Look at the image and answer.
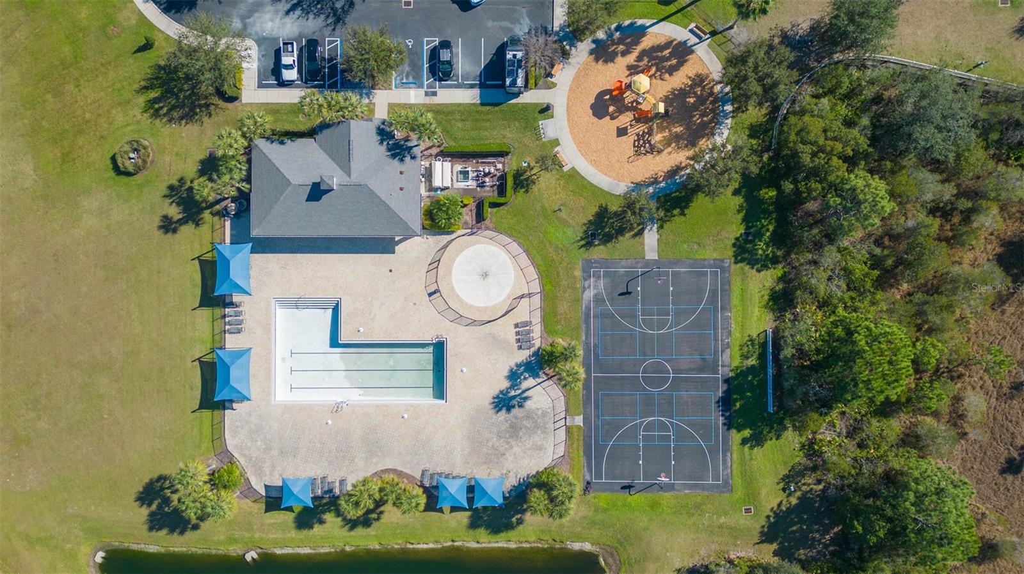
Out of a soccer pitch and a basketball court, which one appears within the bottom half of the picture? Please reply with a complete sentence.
There is a basketball court within the bottom half of the picture.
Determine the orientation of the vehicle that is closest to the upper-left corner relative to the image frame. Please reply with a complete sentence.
The vehicle that is closest to the upper-left corner has been laid out up and down relative to the frame.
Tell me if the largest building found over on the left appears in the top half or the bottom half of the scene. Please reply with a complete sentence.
The largest building found over on the left sits in the top half of the picture.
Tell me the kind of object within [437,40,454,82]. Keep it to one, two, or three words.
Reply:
car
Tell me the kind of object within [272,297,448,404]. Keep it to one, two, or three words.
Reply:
swimming pool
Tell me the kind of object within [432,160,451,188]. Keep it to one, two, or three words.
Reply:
shed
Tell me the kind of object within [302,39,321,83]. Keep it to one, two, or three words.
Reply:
vehicle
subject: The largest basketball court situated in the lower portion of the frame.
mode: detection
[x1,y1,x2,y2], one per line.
[581,259,732,494]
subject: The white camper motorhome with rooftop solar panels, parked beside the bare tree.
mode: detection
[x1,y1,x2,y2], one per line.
[503,35,527,93]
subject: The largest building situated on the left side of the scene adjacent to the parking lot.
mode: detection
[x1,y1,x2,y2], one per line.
[251,117,422,238]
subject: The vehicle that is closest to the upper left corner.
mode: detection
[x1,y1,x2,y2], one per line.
[277,41,297,83]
